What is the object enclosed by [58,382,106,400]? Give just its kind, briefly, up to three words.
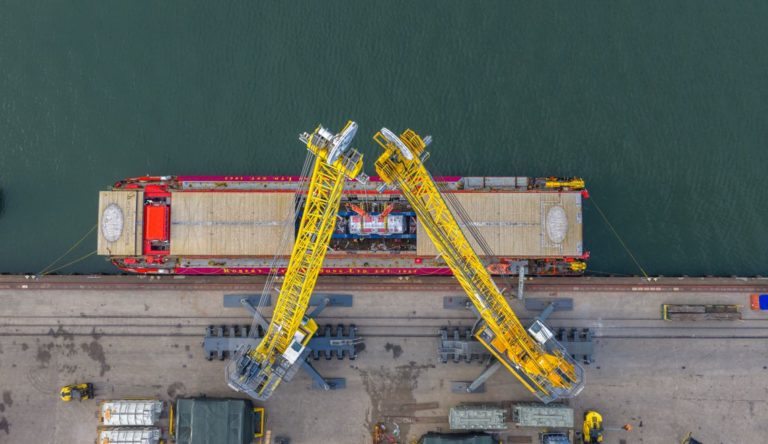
work vehicle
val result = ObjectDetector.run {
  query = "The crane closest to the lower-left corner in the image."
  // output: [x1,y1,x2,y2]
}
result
[203,119,369,404]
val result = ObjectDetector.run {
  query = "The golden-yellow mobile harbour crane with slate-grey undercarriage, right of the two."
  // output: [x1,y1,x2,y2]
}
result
[366,124,593,403]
